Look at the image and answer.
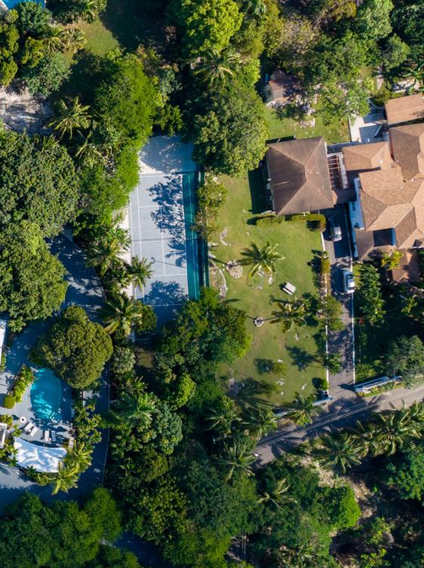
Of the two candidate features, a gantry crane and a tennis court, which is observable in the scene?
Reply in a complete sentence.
There is a tennis court in the scene.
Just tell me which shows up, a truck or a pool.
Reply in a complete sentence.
Of the two, only a pool appears.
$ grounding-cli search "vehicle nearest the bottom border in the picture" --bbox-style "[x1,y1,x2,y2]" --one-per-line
[343,267,360,295]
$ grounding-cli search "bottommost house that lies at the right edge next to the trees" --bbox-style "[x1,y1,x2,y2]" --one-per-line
[334,126,424,282]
